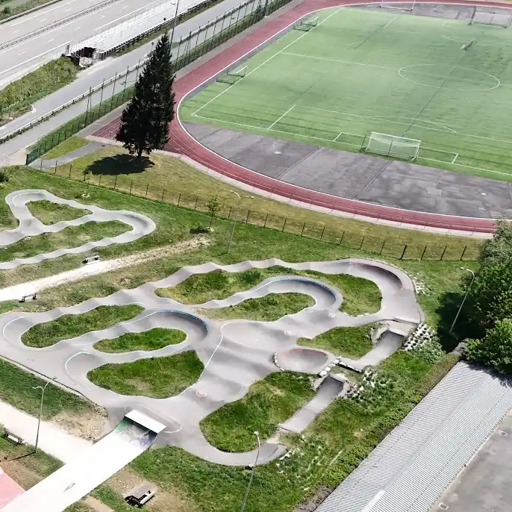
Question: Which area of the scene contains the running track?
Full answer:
Look in the top portion of the view to spot the running track.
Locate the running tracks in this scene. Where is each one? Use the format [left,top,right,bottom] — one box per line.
[90,0,512,234]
